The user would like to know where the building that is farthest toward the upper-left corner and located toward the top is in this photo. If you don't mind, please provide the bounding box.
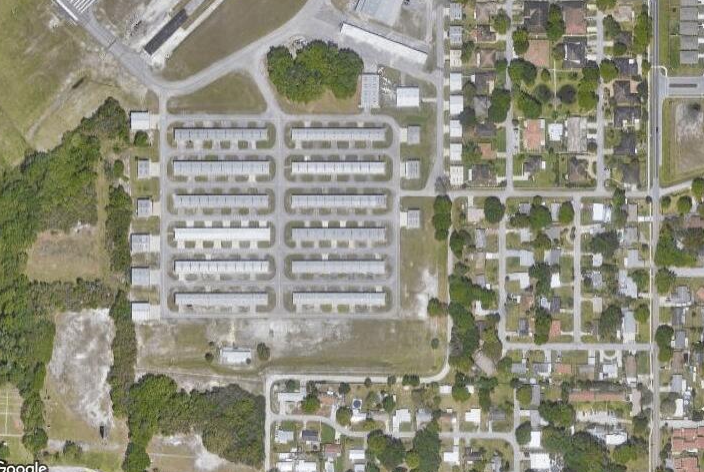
[131,112,149,130]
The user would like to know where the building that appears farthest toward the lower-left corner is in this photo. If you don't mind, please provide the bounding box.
[132,302,149,321]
